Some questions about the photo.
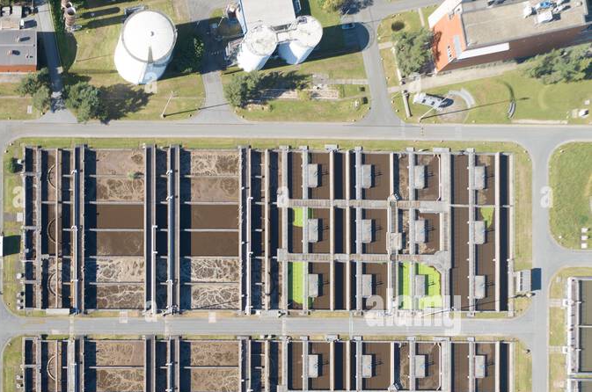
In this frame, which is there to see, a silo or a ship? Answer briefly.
silo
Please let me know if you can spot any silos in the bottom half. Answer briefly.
No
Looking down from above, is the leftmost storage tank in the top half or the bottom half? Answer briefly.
top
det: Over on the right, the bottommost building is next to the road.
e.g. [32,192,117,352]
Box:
[513,270,531,293]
